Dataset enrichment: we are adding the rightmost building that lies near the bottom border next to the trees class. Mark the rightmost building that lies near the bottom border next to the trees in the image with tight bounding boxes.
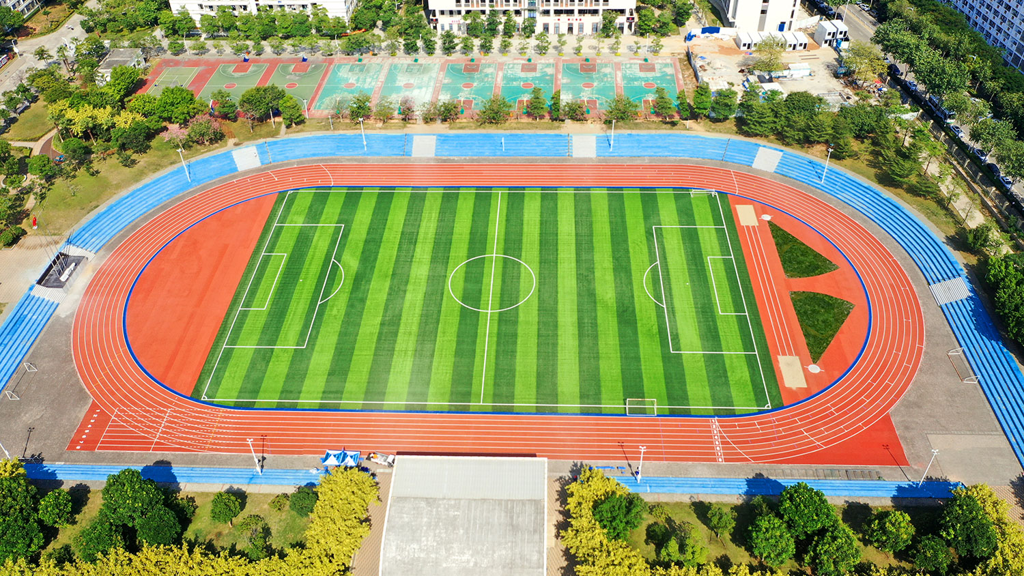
[378,455,549,576]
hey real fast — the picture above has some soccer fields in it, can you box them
[191,187,783,414]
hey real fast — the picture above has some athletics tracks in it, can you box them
[65,164,923,467]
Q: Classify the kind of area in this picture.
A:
sports ground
